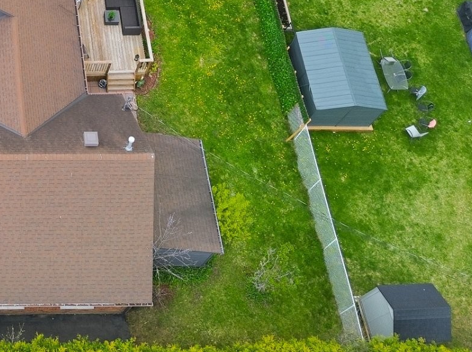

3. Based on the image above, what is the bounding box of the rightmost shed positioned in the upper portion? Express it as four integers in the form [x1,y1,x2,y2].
[288,25,388,134]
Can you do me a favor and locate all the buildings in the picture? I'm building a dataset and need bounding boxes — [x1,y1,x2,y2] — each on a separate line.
[360,287,461,343]
[0,0,226,314]
[288,25,388,134]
